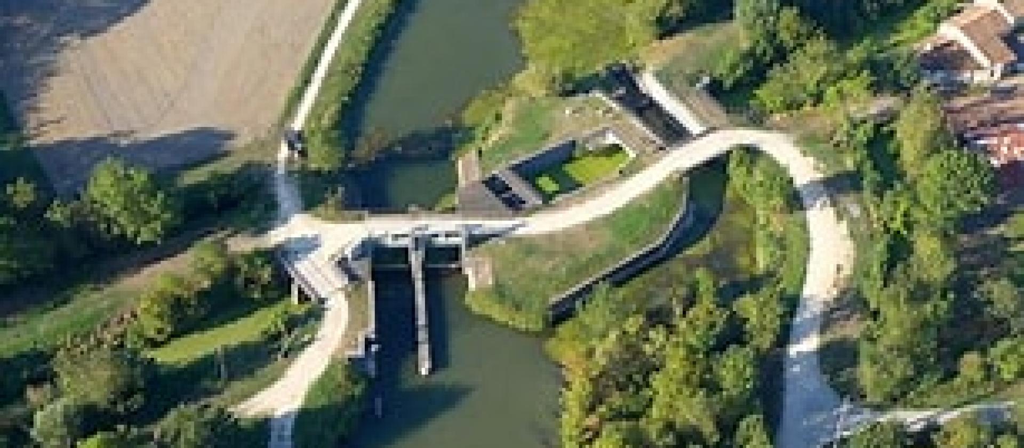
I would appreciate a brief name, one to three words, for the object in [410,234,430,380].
pier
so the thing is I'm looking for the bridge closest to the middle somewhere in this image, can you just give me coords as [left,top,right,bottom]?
[368,216,471,244]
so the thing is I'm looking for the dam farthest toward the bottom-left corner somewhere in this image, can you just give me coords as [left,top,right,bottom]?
[372,231,465,289]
